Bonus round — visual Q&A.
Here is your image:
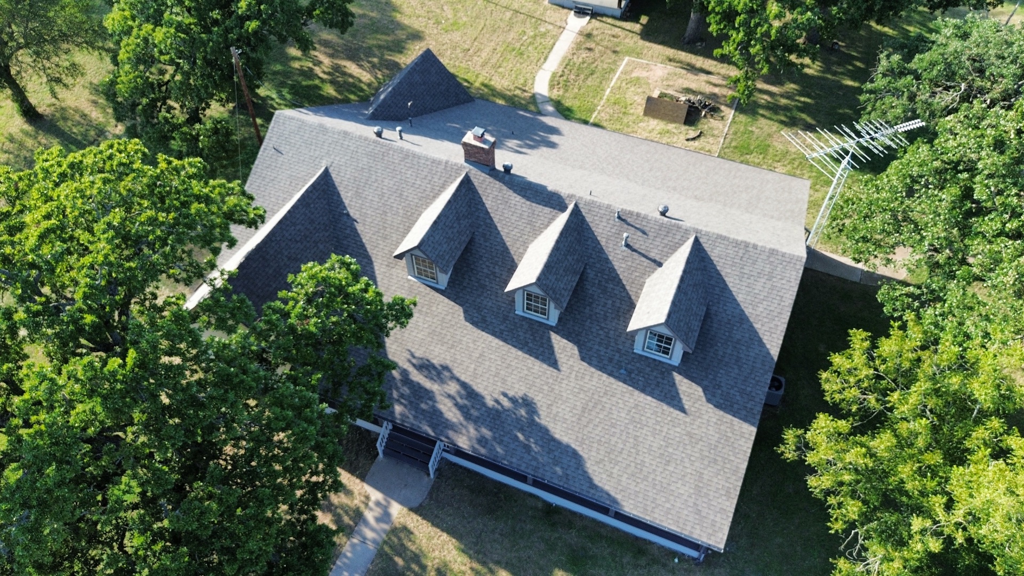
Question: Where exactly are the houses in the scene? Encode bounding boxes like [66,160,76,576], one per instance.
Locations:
[546,0,631,17]
[170,49,811,569]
